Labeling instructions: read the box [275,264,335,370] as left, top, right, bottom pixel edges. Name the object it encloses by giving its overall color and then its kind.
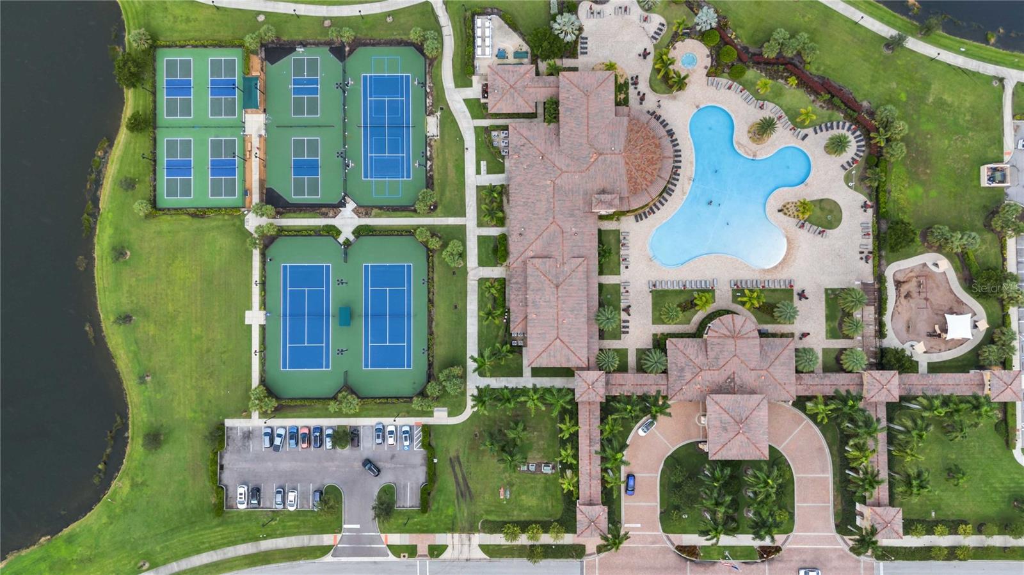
blue tennis court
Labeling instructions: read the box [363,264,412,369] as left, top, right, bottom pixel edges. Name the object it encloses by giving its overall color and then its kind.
blue tennis court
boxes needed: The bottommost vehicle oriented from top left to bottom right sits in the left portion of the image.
[362,458,381,479]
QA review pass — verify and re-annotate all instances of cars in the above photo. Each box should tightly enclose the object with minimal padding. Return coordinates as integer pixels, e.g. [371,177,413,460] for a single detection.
[237,486,248,508]
[362,458,381,479]
[274,487,285,508]
[799,569,822,575]
[263,427,273,449]
[638,417,656,437]
[626,474,636,495]
[301,427,311,448]
[374,423,384,445]
[288,426,299,448]
[1014,138,1024,149]
[324,428,335,450]
[350,428,360,449]
[312,426,322,448]
[274,427,287,452]
[313,490,323,510]
[386,425,396,446]
[249,486,260,507]
[287,489,298,511]
[401,425,411,447]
